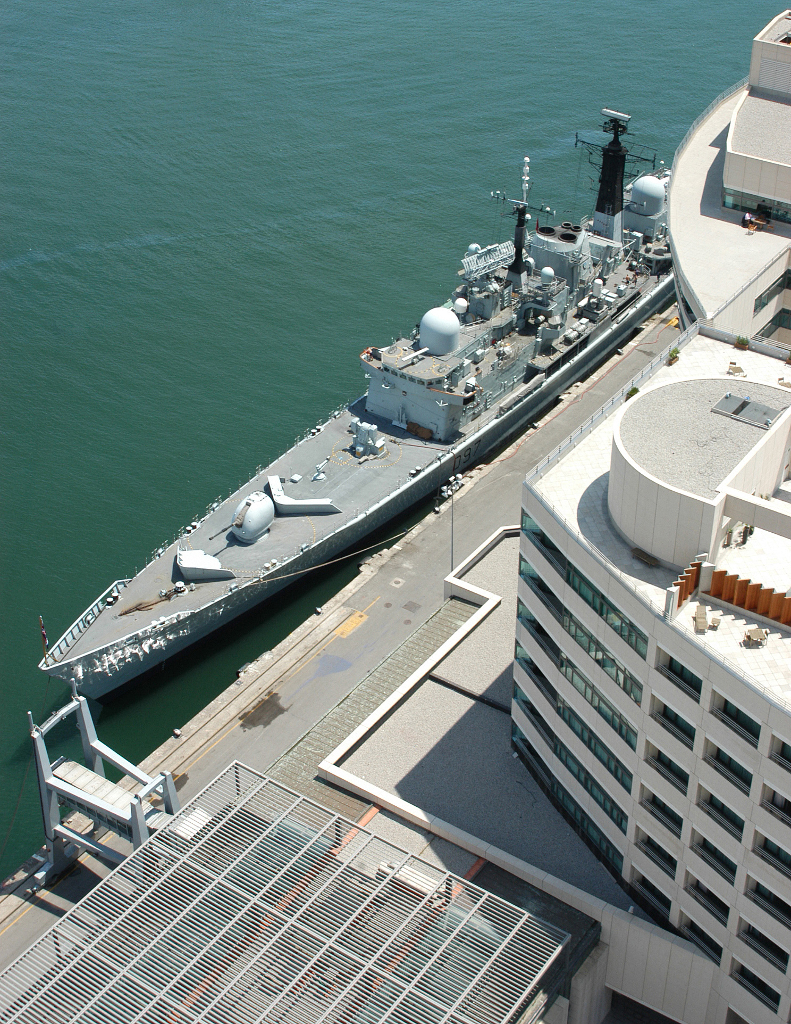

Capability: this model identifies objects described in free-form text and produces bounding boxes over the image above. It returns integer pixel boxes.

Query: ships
[35,107,673,706]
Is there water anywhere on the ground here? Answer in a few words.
Yes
